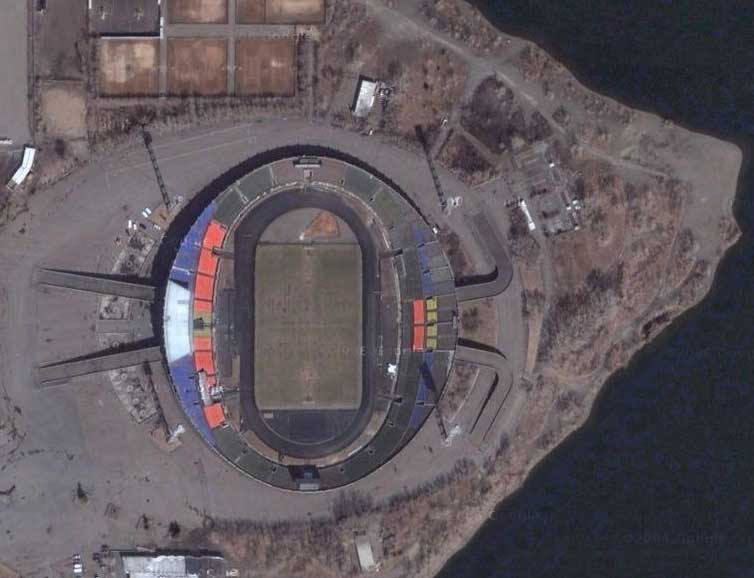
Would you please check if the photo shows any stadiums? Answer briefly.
Yes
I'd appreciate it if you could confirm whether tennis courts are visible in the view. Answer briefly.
Yes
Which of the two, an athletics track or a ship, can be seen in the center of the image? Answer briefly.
athletics track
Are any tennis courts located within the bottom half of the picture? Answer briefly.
No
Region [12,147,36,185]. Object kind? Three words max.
building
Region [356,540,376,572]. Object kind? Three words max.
building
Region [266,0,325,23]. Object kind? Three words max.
tennis court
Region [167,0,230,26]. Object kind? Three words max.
tennis court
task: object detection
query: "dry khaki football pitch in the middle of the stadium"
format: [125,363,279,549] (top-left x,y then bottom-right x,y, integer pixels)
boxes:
[254,241,364,409]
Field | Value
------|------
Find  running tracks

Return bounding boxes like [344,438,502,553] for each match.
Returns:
[236,189,380,459]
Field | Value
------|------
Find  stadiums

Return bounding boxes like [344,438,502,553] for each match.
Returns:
[161,156,460,493]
